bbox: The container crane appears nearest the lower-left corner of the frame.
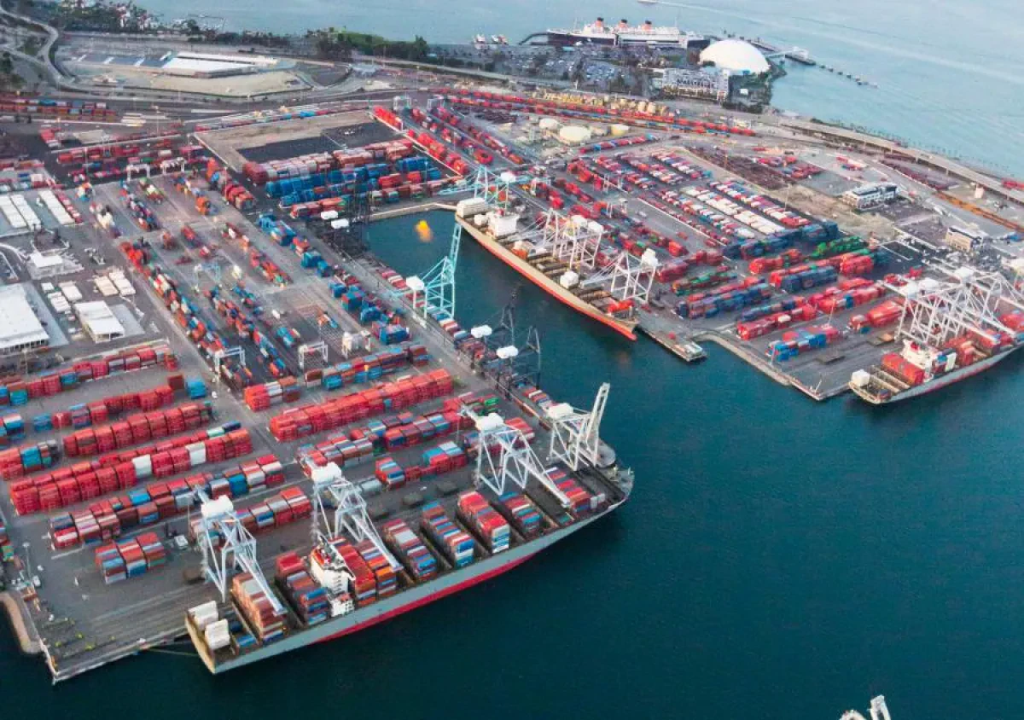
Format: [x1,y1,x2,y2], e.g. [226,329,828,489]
[196,497,294,620]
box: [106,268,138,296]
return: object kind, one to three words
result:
building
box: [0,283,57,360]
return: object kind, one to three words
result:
building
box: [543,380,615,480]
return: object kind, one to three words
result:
container crane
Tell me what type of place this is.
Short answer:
port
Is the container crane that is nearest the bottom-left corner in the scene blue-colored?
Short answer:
No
